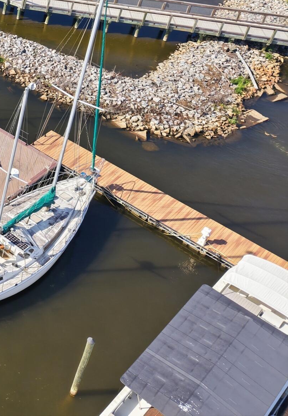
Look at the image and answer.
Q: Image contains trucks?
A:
No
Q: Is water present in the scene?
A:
Yes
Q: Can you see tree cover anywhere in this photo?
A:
No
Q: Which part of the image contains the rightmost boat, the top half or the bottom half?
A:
bottom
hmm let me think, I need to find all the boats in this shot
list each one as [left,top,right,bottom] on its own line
[86,252,288,416]
[0,0,108,305]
